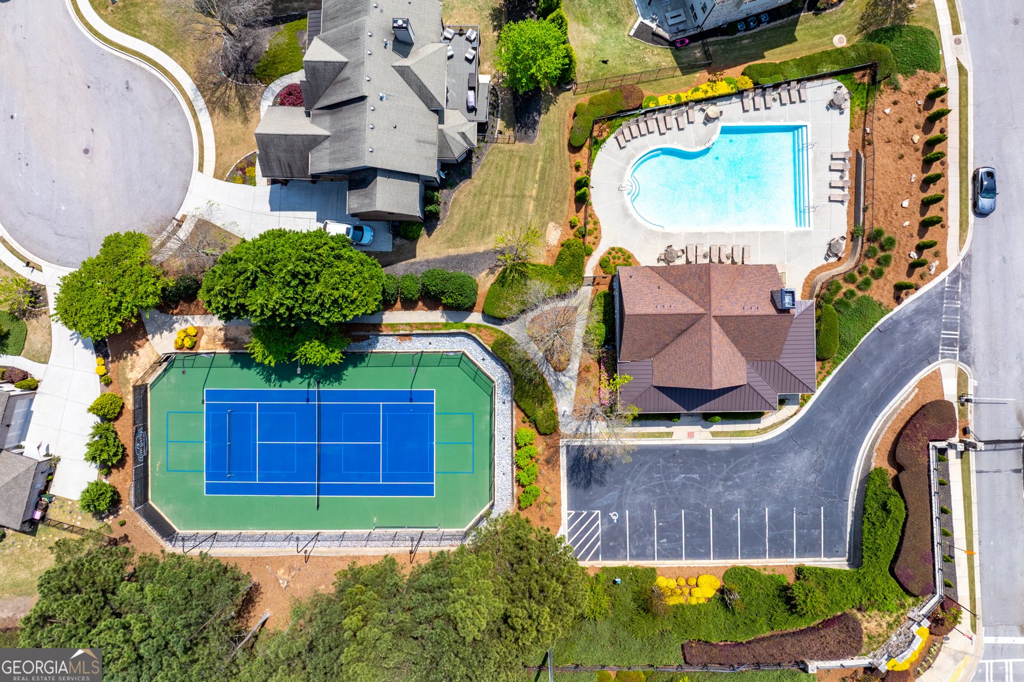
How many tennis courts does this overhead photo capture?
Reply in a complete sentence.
In total, 1 tennis court can be seen.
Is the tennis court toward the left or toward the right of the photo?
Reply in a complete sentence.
It is on the left.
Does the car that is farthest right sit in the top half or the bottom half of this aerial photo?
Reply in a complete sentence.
The car that is farthest right is in the top half of the image.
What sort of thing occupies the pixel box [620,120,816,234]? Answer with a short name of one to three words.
swimming pool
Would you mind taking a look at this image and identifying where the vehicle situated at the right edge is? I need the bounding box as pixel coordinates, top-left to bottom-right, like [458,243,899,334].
[971,167,998,215]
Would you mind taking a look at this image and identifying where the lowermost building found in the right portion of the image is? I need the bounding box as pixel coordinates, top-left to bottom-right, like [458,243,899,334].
[617,263,821,413]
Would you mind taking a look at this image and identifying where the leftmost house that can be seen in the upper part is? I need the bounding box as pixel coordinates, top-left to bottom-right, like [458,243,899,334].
[256,0,478,221]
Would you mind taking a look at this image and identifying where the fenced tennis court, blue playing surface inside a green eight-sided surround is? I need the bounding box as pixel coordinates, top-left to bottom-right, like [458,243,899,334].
[149,352,495,534]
